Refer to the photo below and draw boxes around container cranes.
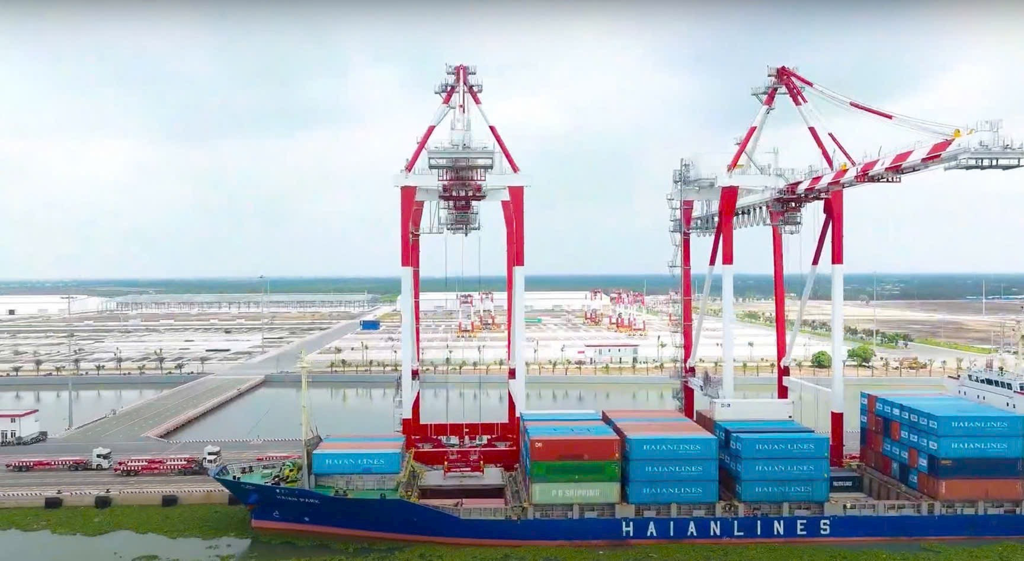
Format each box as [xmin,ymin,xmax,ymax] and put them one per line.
[388,60,532,477]
[583,289,601,322]
[611,291,632,331]
[659,59,1024,468]
[480,291,496,328]
[621,292,647,334]
[663,289,682,326]
[458,292,476,334]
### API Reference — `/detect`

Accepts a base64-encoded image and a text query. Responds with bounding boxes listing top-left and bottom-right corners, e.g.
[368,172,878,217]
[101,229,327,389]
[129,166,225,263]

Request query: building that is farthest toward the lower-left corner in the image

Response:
[0,406,48,445]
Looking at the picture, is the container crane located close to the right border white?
Yes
